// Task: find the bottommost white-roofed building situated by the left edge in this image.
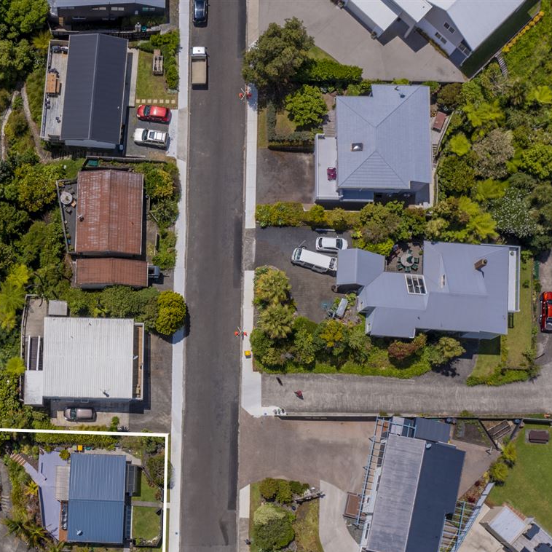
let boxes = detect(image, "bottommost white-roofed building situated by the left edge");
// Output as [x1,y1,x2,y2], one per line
[24,316,144,405]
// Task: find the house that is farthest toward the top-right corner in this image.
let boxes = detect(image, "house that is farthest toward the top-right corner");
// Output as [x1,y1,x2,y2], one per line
[417,0,522,66]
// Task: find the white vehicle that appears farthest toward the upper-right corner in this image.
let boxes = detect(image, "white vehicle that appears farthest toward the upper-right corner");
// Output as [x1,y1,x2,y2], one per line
[312,234,349,252]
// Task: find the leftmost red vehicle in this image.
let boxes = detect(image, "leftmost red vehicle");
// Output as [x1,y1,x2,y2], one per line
[136,103,171,122]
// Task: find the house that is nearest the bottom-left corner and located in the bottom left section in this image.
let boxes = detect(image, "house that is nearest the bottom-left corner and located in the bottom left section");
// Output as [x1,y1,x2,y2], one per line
[54,452,136,544]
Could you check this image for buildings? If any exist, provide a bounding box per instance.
[47,0,166,35]
[40,32,129,149]
[358,417,465,552]
[480,501,529,546]
[75,258,149,286]
[74,170,144,254]
[54,452,136,544]
[355,240,521,338]
[313,83,455,201]
[417,0,522,66]
[24,316,144,405]
[340,0,400,35]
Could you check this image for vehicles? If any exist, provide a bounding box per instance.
[192,0,209,25]
[64,405,96,423]
[312,234,349,252]
[136,103,171,122]
[189,44,208,90]
[132,126,170,148]
[293,247,336,274]
[537,290,552,334]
